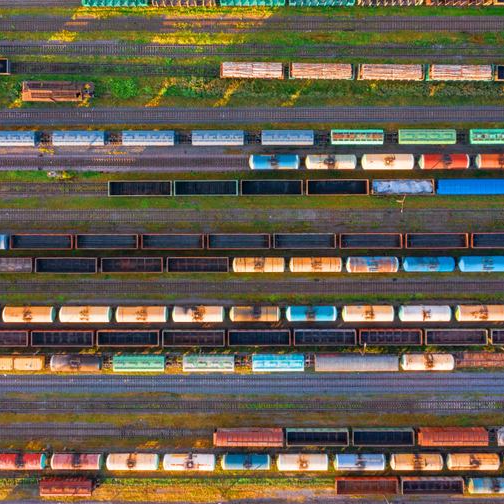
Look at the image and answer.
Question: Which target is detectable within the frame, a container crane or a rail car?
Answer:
rail car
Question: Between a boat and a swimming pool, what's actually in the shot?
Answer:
boat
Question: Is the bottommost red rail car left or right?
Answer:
left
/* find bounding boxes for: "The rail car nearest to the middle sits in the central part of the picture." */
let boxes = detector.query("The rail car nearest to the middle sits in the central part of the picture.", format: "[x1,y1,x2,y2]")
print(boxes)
[230,255,287,272]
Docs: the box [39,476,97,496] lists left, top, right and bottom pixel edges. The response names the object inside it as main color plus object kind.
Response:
red rail car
